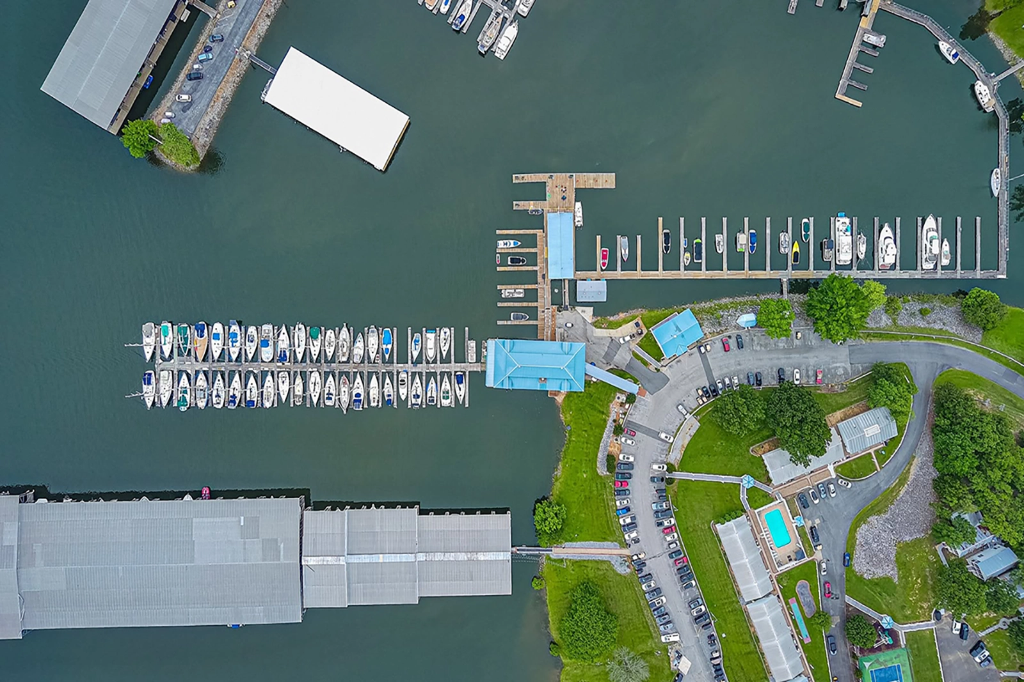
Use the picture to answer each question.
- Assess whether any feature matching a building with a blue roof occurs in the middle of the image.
Yes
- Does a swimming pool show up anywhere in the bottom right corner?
Yes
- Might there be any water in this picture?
Yes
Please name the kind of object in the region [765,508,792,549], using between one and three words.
swimming pool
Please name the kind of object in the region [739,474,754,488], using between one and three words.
gazebo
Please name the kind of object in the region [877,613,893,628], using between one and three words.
gazebo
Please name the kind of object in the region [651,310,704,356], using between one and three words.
building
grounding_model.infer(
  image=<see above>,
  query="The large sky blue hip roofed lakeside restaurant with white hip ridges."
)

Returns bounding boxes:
[486,339,585,391]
